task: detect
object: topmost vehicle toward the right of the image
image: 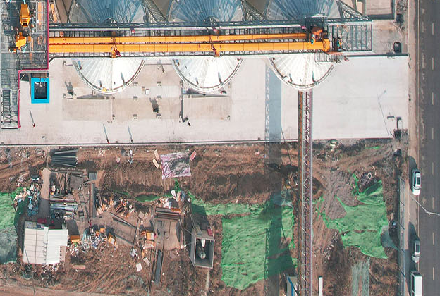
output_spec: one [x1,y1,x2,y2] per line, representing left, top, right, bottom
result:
[412,168,425,198]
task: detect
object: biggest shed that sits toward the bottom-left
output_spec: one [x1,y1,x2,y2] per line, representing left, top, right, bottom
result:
[22,221,67,263]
